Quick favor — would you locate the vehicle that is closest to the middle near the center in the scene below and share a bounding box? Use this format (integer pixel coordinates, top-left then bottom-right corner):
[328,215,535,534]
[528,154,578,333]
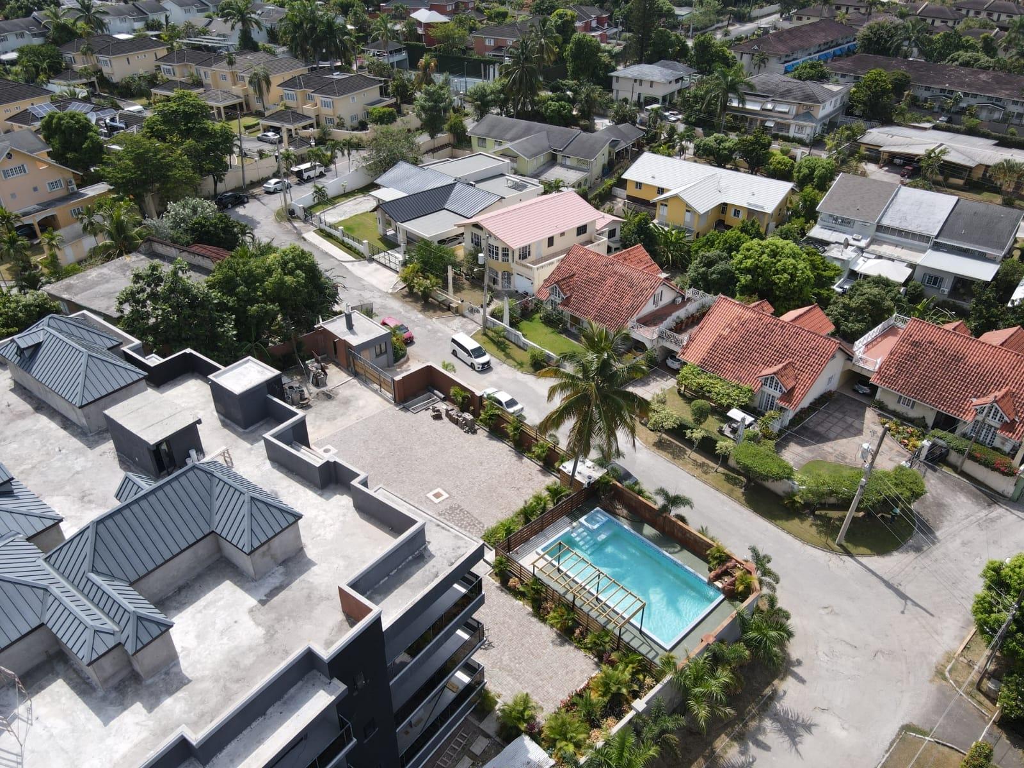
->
[482,385,525,418]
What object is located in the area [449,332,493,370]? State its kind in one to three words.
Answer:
van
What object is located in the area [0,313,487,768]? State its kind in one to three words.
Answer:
building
